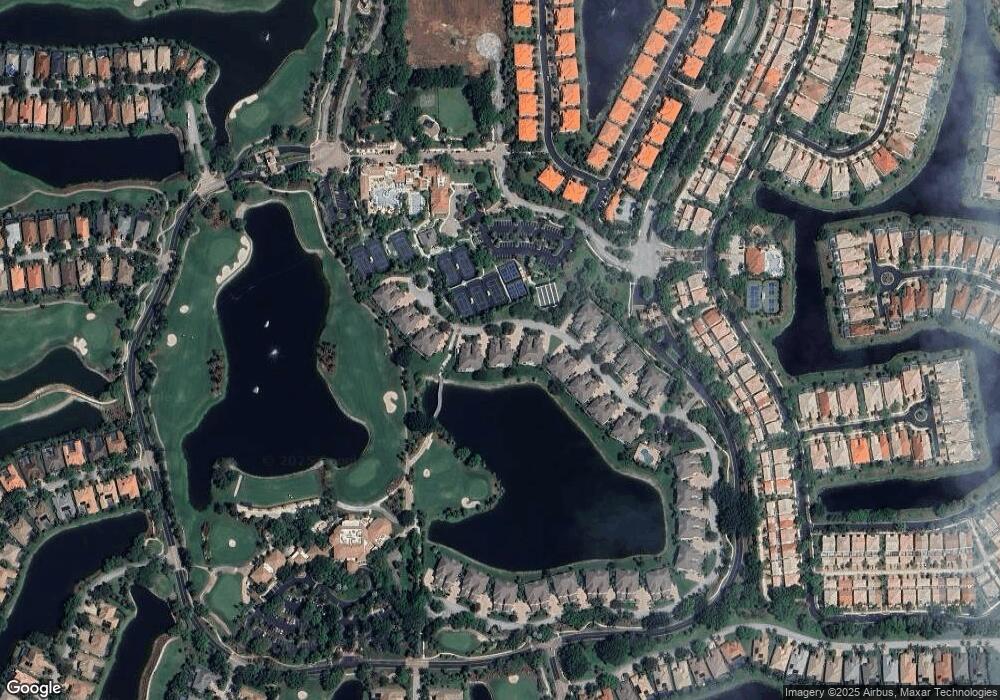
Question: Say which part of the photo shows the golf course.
left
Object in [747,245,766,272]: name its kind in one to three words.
building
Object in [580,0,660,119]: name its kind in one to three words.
pond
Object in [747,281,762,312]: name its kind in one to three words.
tennis court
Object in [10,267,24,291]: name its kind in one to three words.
house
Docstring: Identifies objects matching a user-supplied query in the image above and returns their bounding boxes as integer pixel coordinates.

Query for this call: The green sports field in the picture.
[438,86,476,138]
